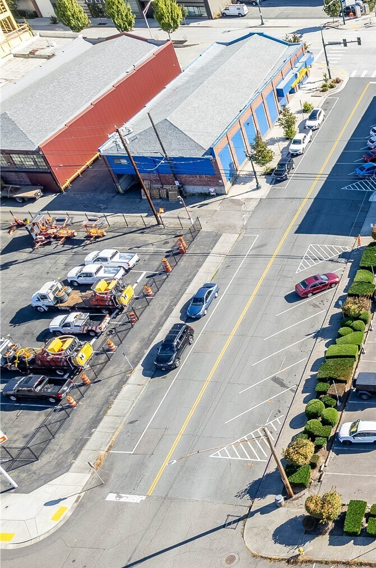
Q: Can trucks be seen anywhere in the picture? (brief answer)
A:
Yes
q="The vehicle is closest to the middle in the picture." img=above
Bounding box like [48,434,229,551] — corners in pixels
[187,284,220,319]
